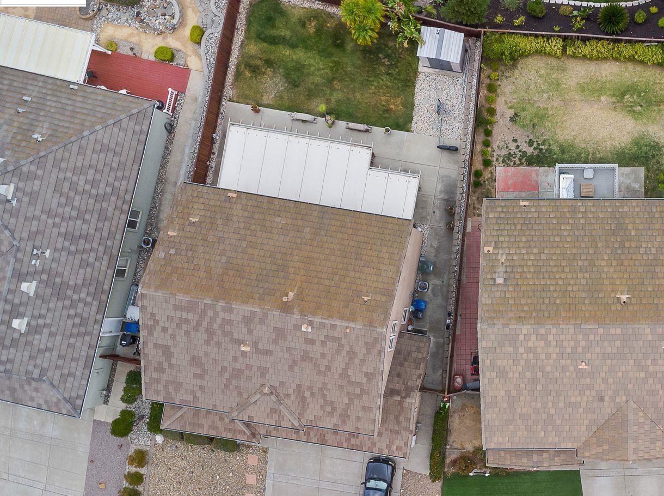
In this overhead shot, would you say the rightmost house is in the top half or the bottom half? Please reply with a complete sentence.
The rightmost house sits in the bottom half of the picture.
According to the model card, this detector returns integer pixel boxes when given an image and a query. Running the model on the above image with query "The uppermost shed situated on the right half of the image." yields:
[418,27,466,71]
